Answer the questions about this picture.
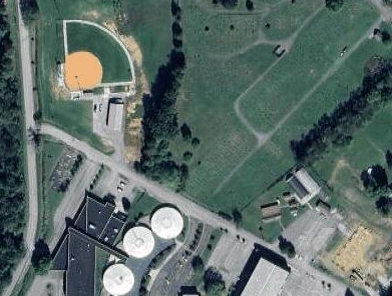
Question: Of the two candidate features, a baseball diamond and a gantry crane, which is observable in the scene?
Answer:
baseball diamond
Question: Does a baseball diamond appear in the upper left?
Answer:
Yes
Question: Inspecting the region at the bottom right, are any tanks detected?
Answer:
No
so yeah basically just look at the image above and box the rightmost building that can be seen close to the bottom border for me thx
[241,258,290,296]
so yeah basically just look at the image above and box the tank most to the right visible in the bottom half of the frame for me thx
[151,206,184,240]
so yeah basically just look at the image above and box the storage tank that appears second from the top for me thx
[123,227,155,258]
